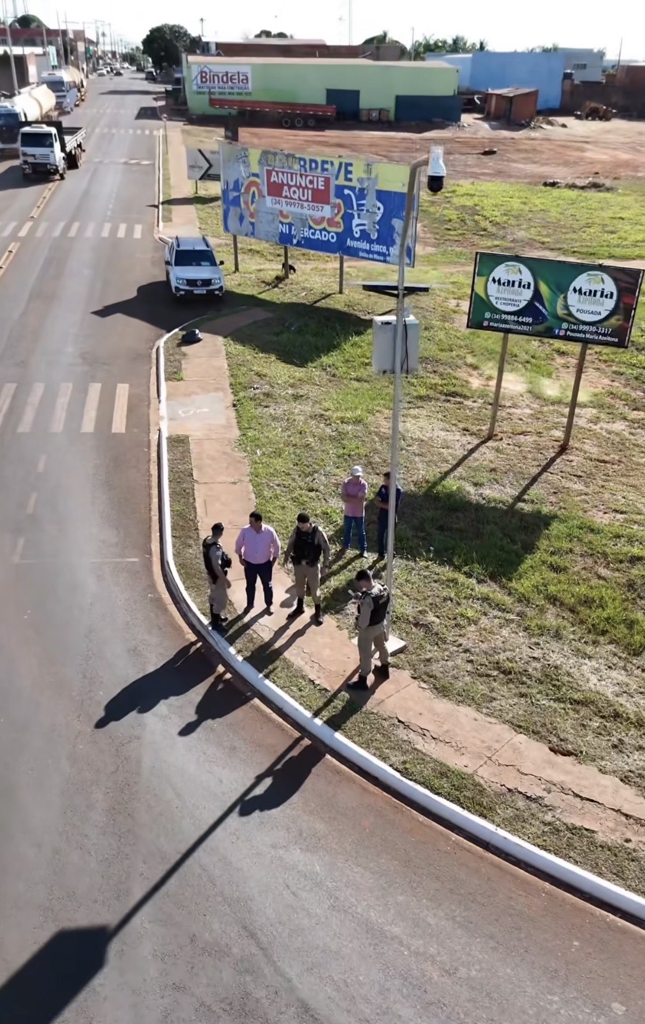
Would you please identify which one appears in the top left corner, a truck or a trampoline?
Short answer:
truck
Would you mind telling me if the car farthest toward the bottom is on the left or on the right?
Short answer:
left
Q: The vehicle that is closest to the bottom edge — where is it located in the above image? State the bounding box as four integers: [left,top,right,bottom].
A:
[157,229,226,299]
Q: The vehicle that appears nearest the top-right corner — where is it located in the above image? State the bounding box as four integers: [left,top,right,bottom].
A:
[558,95,628,121]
